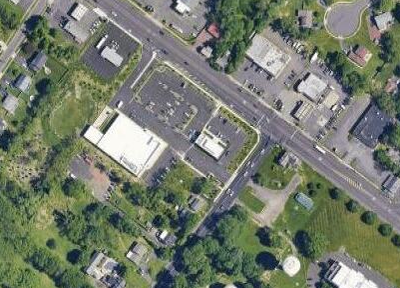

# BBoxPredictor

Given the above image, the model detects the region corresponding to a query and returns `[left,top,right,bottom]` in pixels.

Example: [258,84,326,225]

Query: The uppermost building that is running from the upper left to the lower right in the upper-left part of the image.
[63,20,93,46]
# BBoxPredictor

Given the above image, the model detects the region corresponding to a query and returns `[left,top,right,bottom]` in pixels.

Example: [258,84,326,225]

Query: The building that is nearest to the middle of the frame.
[195,136,224,161]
